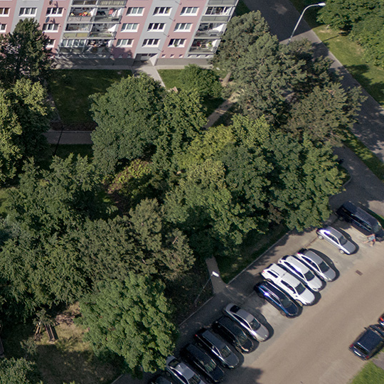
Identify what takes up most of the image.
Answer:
trees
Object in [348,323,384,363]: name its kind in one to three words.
car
